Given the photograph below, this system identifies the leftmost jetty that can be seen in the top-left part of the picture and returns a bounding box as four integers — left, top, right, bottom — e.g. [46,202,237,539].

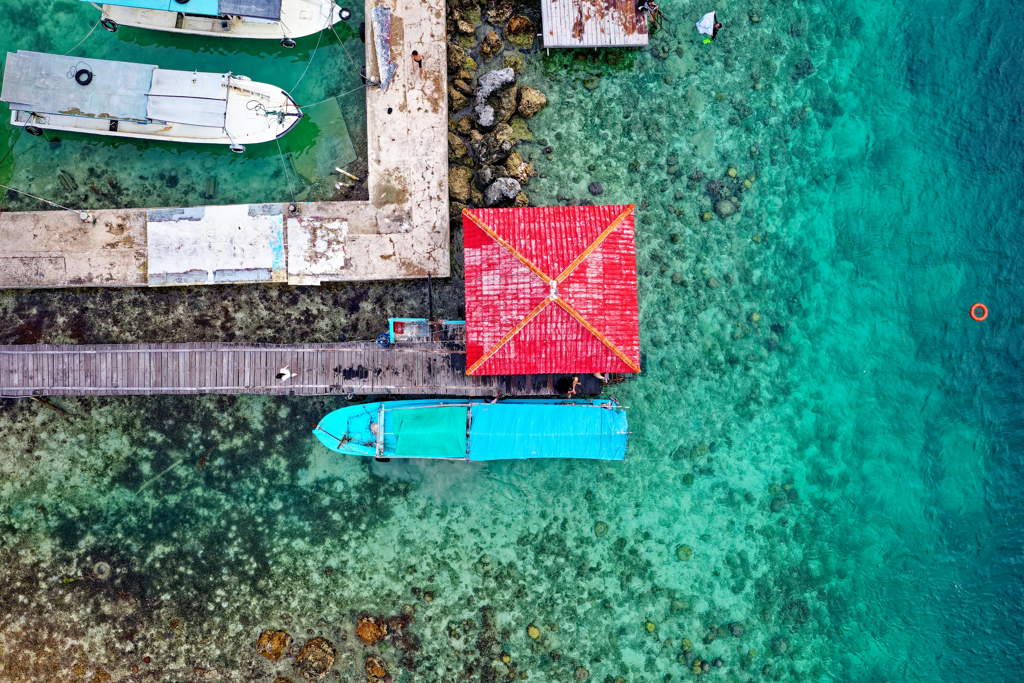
[0,0,451,289]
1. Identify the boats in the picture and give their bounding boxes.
[80,0,347,41]
[311,394,633,463]
[1,49,306,145]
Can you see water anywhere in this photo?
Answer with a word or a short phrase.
Yes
